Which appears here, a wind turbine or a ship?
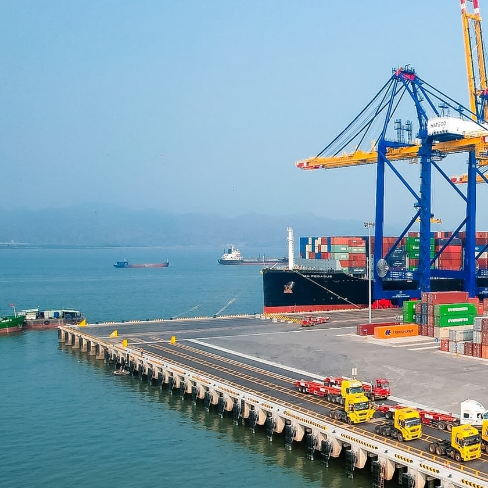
ship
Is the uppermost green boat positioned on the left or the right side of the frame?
left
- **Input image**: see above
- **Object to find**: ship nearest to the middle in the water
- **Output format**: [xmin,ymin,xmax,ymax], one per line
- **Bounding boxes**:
[219,245,308,264]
